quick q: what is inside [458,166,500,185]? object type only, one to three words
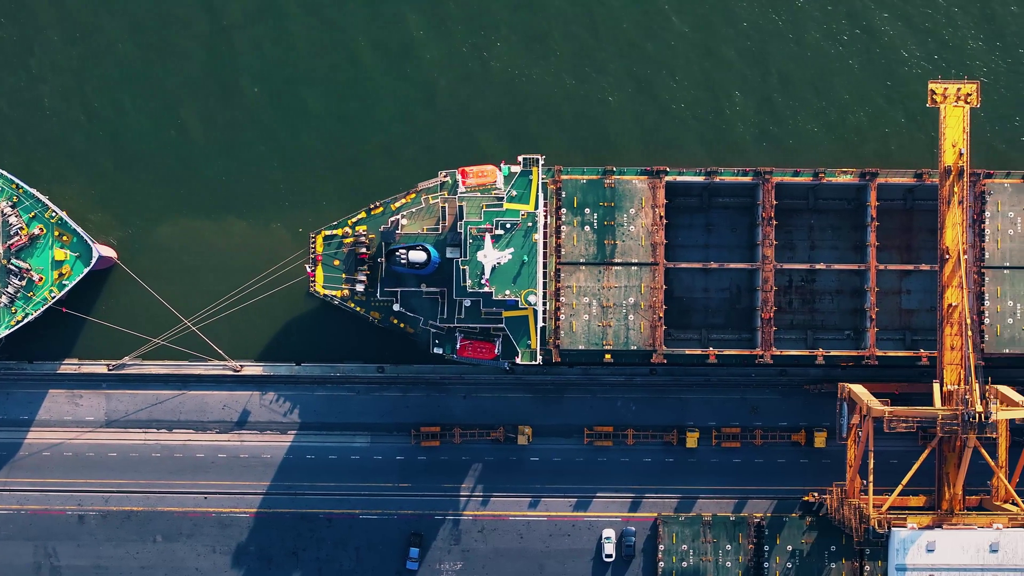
boat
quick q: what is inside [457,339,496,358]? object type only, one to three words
boat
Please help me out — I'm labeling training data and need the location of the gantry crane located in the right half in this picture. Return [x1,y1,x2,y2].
[809,80,1024,576]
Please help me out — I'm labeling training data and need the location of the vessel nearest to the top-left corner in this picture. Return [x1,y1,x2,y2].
[0,169,118,337]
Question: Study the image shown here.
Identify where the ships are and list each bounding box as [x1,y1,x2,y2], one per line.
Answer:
[0,169,118,337]
[305,155,1024,370]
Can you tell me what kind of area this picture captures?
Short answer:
port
